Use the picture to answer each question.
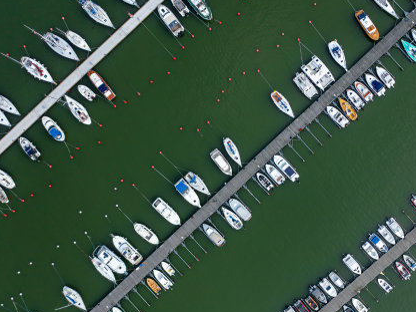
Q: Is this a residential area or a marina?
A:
marina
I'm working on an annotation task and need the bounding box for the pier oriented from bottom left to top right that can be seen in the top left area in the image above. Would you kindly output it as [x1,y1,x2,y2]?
[0,0,167,157]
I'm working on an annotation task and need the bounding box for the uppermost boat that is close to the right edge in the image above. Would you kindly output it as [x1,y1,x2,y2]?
[374,0,405,25]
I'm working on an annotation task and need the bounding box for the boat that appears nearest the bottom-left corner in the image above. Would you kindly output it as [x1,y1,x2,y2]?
[55,286,93,310]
